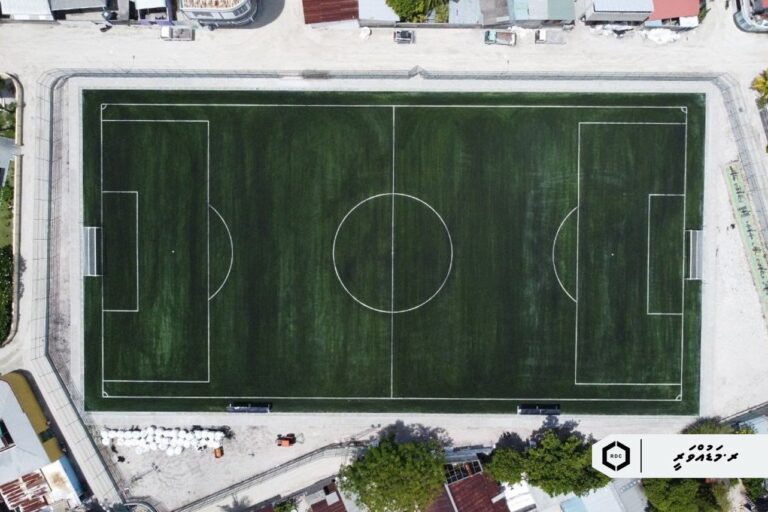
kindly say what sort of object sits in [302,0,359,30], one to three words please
house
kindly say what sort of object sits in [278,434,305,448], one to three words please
work vehicle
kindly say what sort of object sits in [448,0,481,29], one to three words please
house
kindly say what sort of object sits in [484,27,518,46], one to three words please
vehicle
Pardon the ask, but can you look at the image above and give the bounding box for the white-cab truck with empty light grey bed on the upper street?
[534,28,568,44]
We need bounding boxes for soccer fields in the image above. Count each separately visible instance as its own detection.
[81,88,707,418]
